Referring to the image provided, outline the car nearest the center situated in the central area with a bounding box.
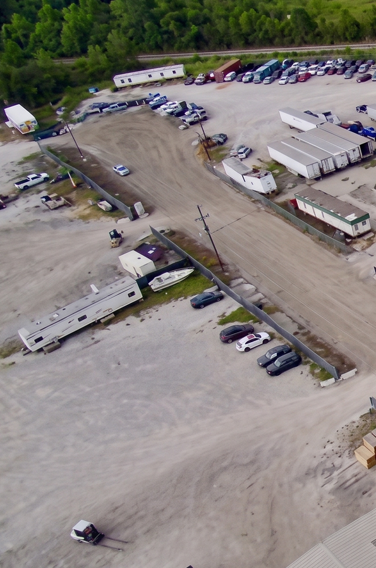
[190,289,224,308]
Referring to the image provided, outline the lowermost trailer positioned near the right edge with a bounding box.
[293,187,371,240]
